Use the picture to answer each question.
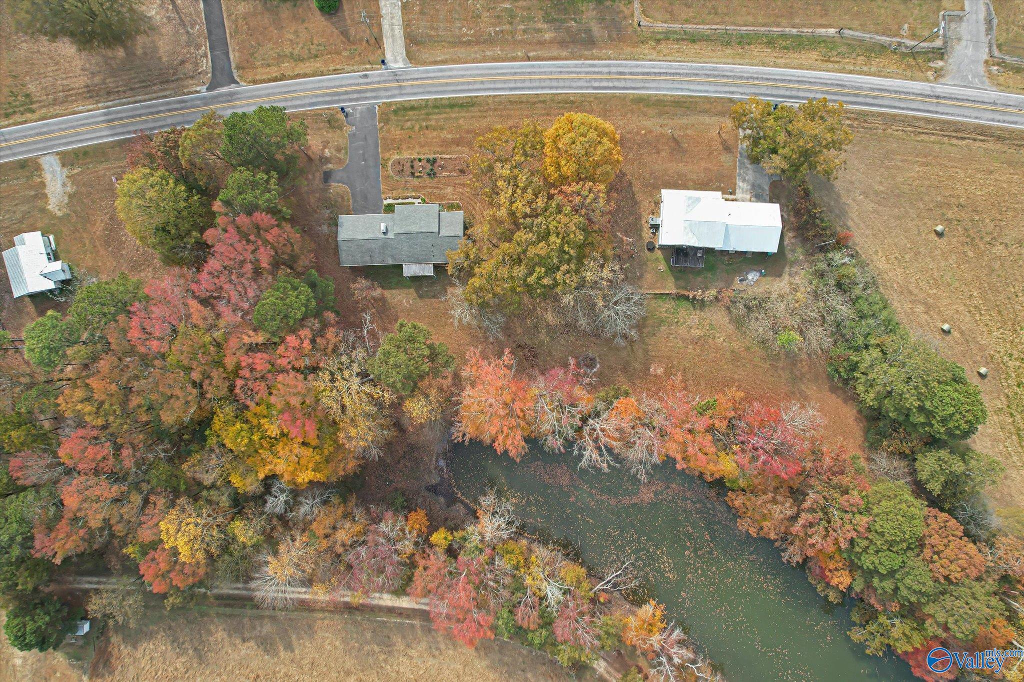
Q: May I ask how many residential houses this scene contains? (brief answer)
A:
3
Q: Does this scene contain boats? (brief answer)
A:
No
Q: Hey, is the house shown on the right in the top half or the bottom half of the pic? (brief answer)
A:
top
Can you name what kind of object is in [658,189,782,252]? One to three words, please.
house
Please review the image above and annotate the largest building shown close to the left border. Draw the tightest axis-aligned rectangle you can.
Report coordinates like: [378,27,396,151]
[2,231,74,299]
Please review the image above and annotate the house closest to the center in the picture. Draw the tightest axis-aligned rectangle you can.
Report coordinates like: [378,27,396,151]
[337,203,464,267]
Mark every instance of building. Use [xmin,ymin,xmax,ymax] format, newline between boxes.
[658,189,782,252]
[337,203,464,267]
[68,621,86,638]
[2,231,74,299]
